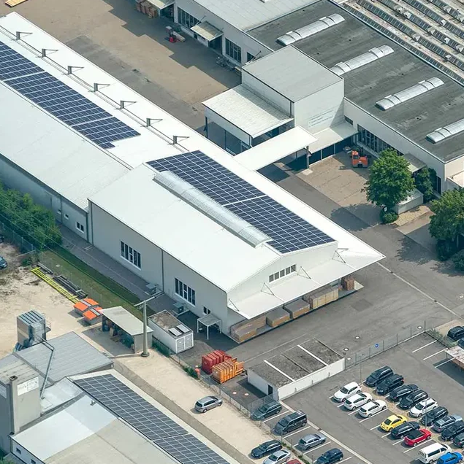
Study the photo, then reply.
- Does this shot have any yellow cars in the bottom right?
Yes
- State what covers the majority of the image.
buildings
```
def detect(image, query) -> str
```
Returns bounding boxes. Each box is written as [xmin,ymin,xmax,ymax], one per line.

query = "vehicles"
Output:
[342,393,372,410]
[434,451,464,464]
[402,429,432,447]
[165,23,178,43]
[193,394,225,414]
[389,420,421,440]
[451,430,464,448]
[261,447,293,464]
[364,364,394,385]
[0,254,8,269]
[408,396,439,417]
[251,438,283,459]
[274,408,308,434]
[374,372,406,393]
[251,400,283,421]
[388,383,418,402]
[332,381,361,400]
[315,445,345,464]
[417,441,451,464]
[445,324,464,341]
[431,414,463,433]
[398,388,430,408]
[440,420,464,439]
[378,414,408,432]
[357,400,386,418]
[417,405,450,426]
[295,433,327,451]
[342,143,372,166]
